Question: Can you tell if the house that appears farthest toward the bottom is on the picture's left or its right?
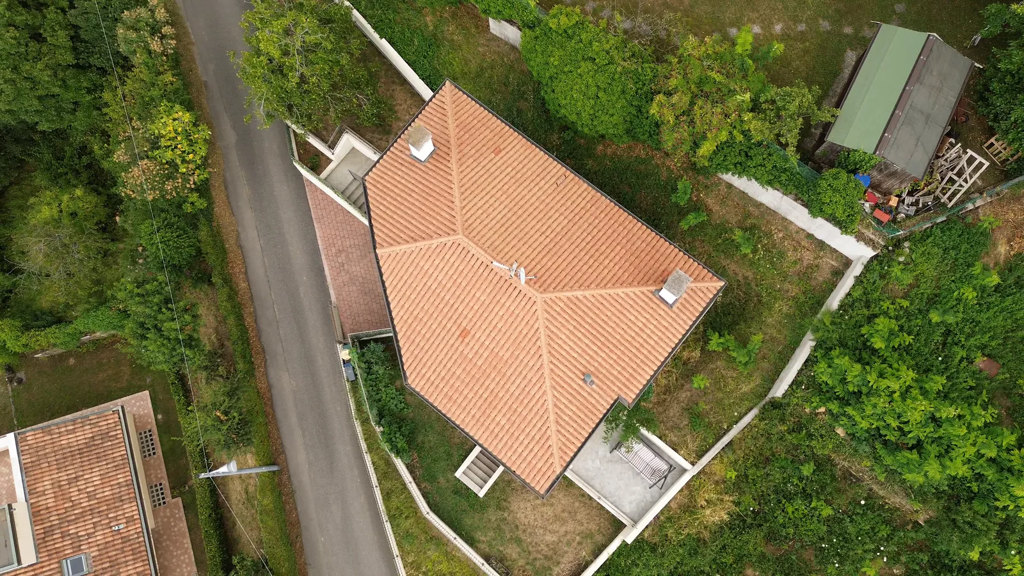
left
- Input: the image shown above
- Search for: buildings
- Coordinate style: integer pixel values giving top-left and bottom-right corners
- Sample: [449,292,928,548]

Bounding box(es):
[363,80,727,498]
[0,406,170,576]
[813,20,983,191]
